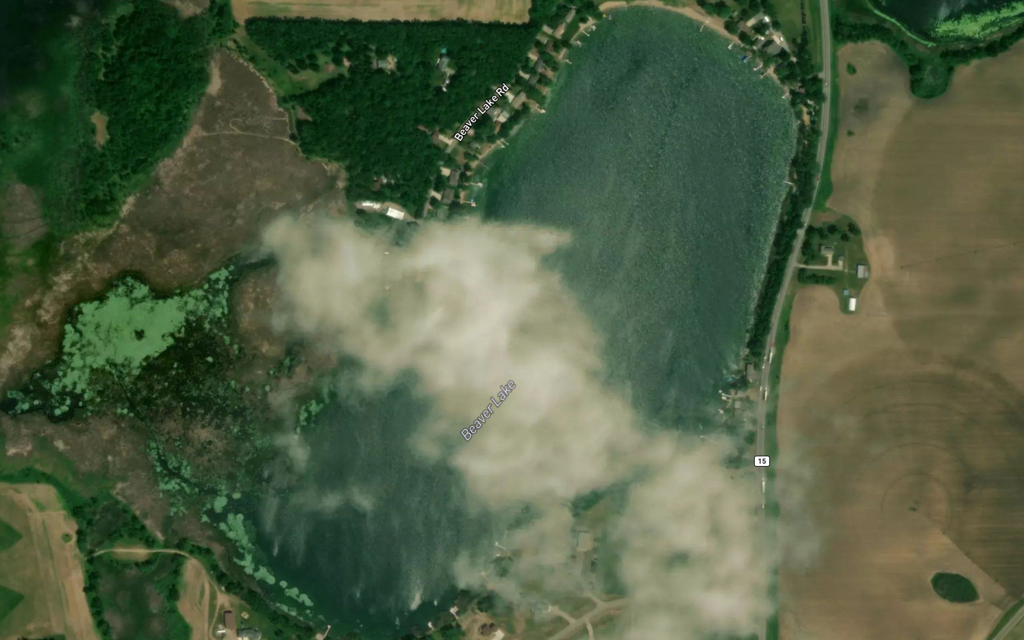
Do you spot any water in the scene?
Yes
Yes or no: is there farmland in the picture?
Yes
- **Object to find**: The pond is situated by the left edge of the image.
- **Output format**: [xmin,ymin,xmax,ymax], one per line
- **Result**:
[0,255,275,421]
